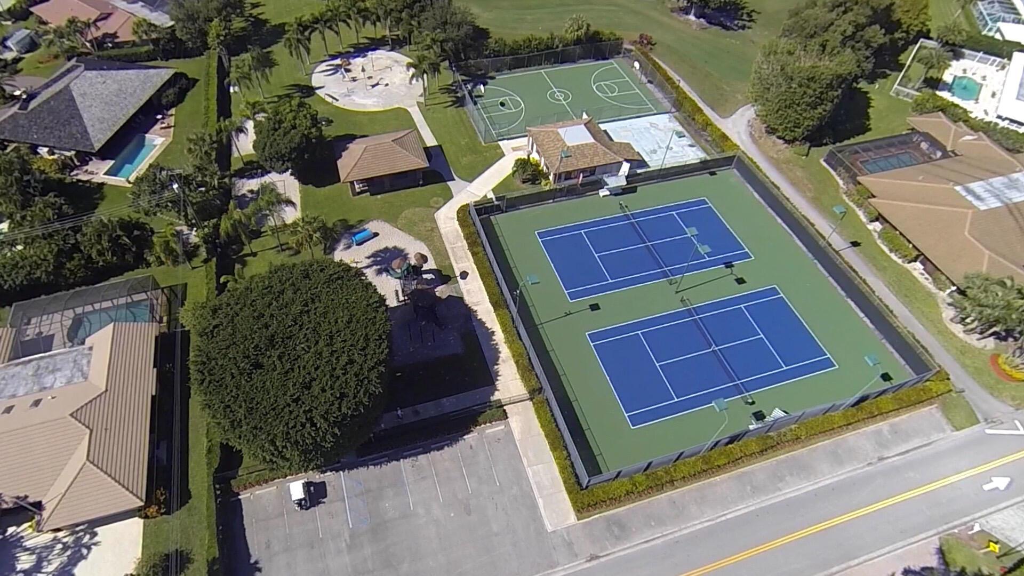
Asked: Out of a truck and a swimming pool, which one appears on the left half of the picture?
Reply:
swimming pool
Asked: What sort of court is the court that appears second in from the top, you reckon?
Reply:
tennis court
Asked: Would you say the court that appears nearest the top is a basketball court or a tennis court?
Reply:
basketball court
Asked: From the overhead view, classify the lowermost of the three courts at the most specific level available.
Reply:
tennis court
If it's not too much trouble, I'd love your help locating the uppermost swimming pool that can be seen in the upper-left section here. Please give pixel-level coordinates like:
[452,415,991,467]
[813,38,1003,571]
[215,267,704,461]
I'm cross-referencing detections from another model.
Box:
[98,132,168,182]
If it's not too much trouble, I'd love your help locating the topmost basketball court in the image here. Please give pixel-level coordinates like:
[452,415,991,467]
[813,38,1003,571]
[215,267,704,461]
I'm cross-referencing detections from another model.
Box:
[464,57,675,143]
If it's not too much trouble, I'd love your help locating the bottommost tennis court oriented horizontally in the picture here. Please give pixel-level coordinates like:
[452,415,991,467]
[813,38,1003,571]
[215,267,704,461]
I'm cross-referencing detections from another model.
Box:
[526,261,909,478]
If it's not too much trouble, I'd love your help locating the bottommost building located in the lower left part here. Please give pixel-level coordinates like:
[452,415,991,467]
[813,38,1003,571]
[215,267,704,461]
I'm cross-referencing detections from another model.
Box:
[0,322,161,532]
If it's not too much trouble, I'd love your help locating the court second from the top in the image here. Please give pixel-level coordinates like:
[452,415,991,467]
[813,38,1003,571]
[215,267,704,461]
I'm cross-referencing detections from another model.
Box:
[480,171,811,329]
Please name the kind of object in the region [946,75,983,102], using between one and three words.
swimming pool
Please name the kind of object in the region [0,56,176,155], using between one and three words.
house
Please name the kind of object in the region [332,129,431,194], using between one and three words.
building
